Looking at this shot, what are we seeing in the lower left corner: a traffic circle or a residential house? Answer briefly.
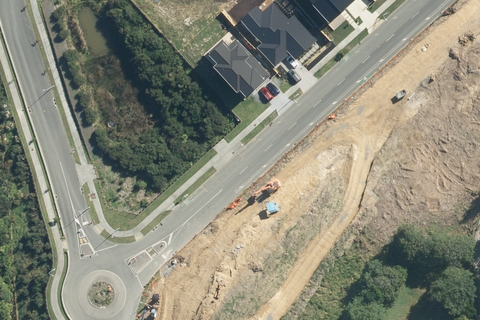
traffic circle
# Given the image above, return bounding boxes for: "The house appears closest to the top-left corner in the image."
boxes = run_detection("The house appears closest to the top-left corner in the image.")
[208,39,271,98]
